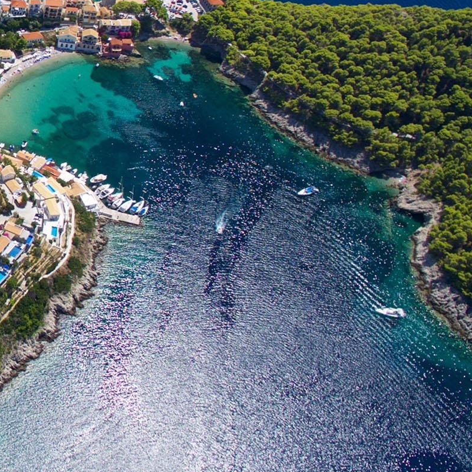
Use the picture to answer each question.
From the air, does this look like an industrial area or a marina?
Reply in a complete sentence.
What you see here is a marina.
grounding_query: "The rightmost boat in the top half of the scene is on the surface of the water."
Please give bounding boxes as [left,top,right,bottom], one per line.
[297,170,321,195]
